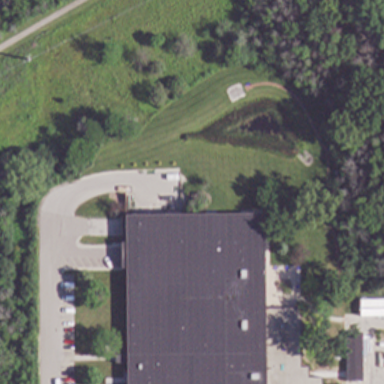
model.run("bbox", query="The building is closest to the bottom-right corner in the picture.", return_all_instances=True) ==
[348,335,364,382]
